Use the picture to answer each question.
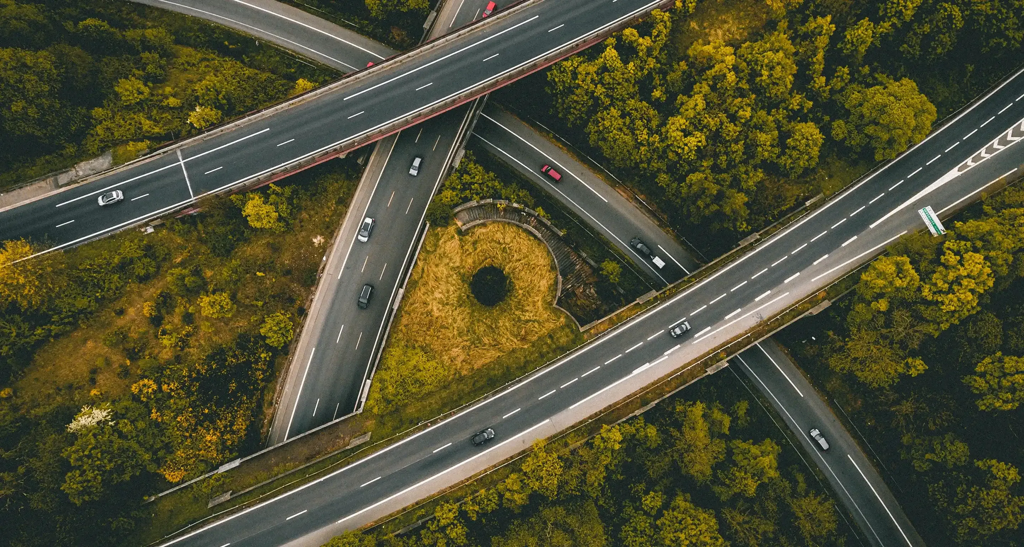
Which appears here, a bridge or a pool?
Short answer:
bridge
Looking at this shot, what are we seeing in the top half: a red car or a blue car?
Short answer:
red car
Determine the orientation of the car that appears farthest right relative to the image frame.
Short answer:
diagonally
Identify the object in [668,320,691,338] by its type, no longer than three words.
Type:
car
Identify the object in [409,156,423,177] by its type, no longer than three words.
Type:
car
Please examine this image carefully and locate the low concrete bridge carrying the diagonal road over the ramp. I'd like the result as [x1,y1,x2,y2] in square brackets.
[620,221,835,391]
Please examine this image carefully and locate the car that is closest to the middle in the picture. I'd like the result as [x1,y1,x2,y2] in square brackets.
[541,165,562,182]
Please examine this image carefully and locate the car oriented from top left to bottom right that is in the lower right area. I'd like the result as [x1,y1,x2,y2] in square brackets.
[808,427,831,452]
